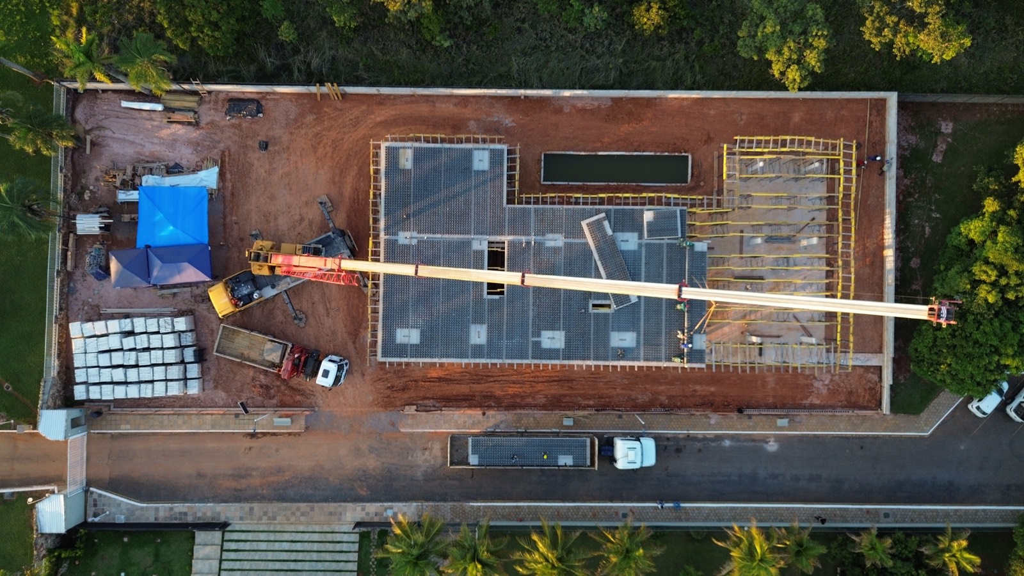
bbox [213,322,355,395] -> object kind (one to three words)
truck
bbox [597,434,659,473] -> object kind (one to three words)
truck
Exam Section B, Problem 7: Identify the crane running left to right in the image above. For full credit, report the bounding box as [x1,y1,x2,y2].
[204,203,973,331]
